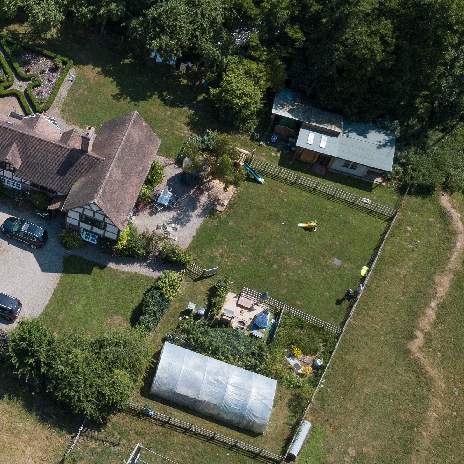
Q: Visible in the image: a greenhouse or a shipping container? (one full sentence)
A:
This aerial view contains a greenhouse.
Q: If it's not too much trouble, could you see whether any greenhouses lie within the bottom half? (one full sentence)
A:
Yes, a greenhouse appears within the bottom half.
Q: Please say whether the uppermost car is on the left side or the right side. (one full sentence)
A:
The uppermost car is on the left side of the image.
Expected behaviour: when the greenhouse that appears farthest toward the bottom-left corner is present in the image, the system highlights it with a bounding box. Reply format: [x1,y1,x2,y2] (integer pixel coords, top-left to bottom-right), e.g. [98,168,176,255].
[150,340,278,434]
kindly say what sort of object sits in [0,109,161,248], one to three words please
house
